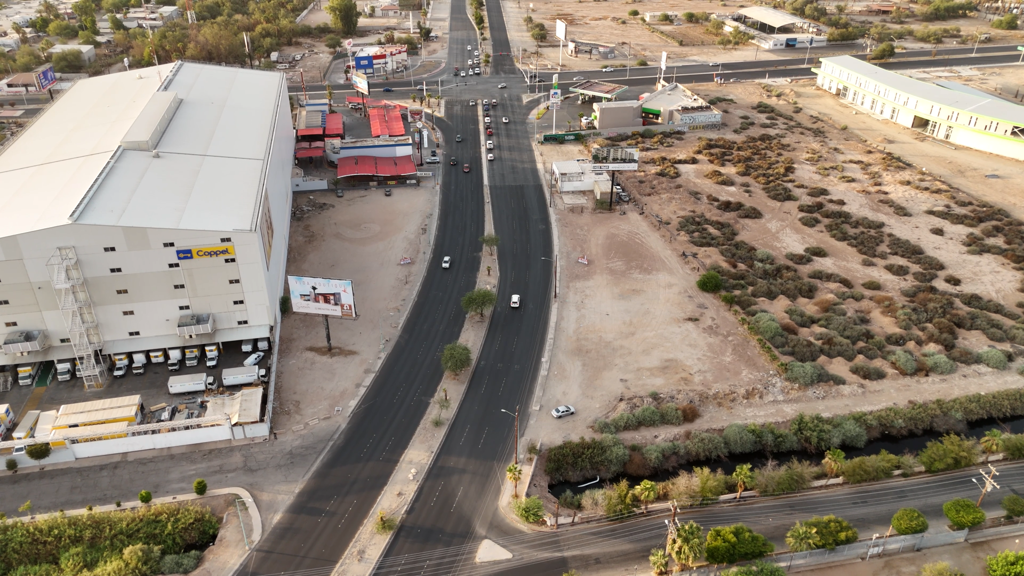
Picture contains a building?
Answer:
Yes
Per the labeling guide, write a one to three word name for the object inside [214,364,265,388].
truck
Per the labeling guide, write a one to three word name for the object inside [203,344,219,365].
vehicle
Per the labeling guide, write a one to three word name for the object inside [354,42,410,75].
building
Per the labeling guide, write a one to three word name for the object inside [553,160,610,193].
house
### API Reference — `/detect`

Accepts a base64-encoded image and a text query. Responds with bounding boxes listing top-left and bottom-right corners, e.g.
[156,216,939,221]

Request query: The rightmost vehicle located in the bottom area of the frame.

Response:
[551,403,576,417]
